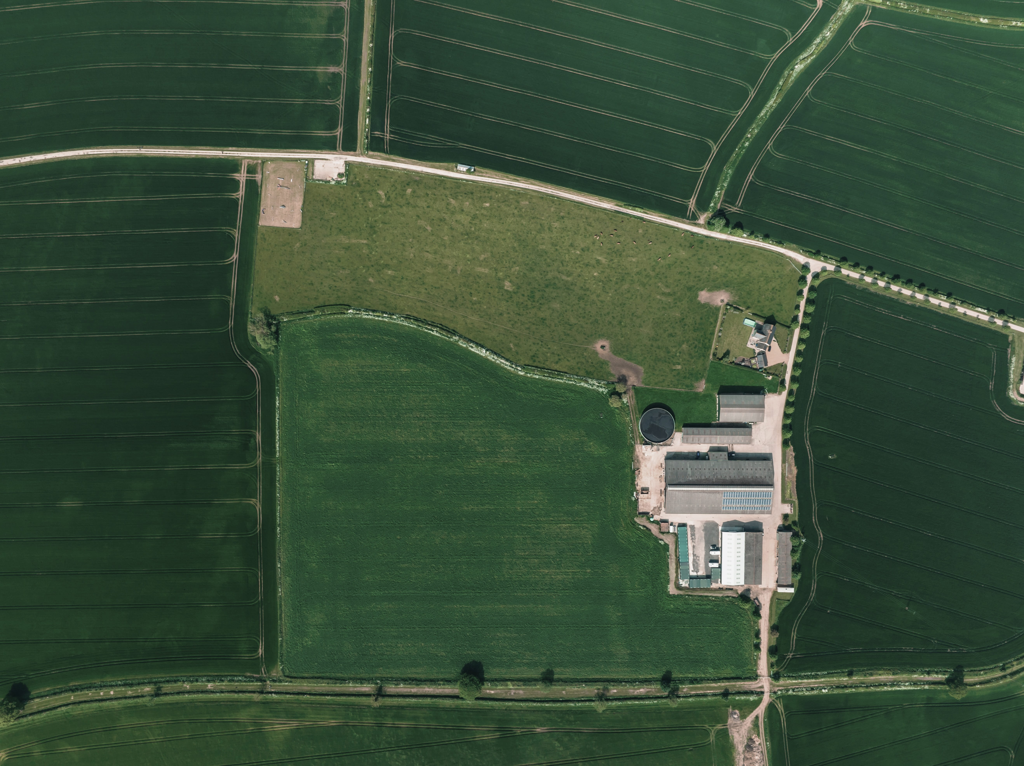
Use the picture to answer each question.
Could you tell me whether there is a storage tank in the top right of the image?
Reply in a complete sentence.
No, I see no storage tank in the top right of the image.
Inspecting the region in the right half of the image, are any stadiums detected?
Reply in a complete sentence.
No, no stadium appears in the right half of the image.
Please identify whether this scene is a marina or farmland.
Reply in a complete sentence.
The area seen from above is farmland.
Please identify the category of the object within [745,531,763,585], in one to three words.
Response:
barn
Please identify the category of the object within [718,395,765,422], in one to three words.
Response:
barn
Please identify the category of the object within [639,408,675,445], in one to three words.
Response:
storage tank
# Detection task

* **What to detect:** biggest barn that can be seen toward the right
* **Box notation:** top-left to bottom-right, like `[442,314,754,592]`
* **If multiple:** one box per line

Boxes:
[665,460,775,514]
